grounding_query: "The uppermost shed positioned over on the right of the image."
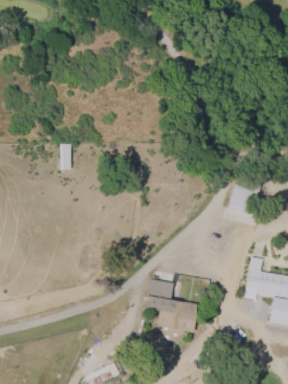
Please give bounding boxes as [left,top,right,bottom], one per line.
[230,184,260,214]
